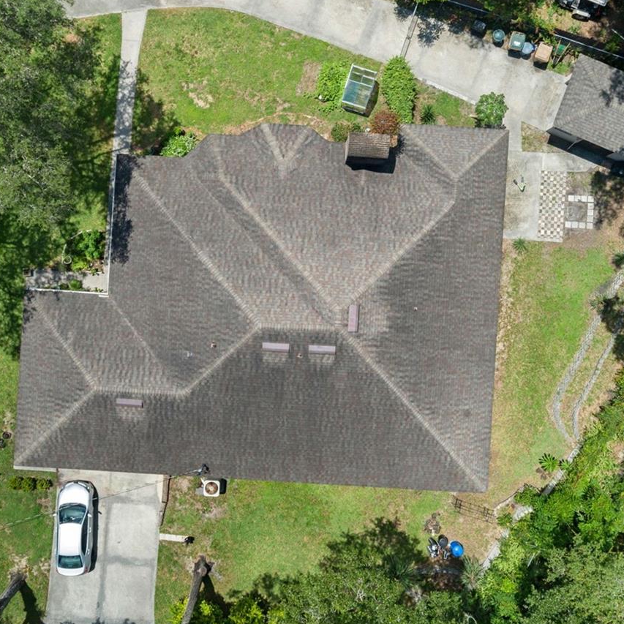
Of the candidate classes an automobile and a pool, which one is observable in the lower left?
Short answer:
automobile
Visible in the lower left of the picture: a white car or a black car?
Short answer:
white car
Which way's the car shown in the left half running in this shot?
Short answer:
up and down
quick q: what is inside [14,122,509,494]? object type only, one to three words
house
